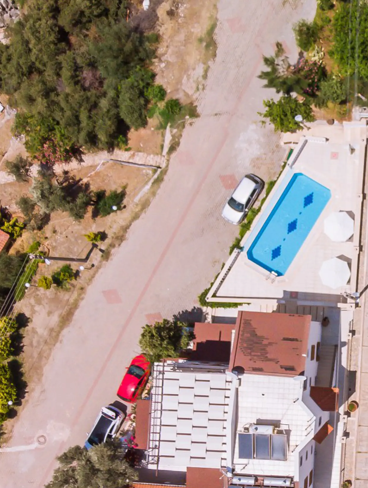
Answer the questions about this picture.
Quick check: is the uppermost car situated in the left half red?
Yes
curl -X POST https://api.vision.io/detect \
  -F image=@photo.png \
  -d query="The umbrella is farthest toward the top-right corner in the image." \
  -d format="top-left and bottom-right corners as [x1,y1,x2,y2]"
[324,212,355,242]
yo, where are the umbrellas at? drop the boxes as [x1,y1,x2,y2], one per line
[324,212,355,242]
[319,256,351,290]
